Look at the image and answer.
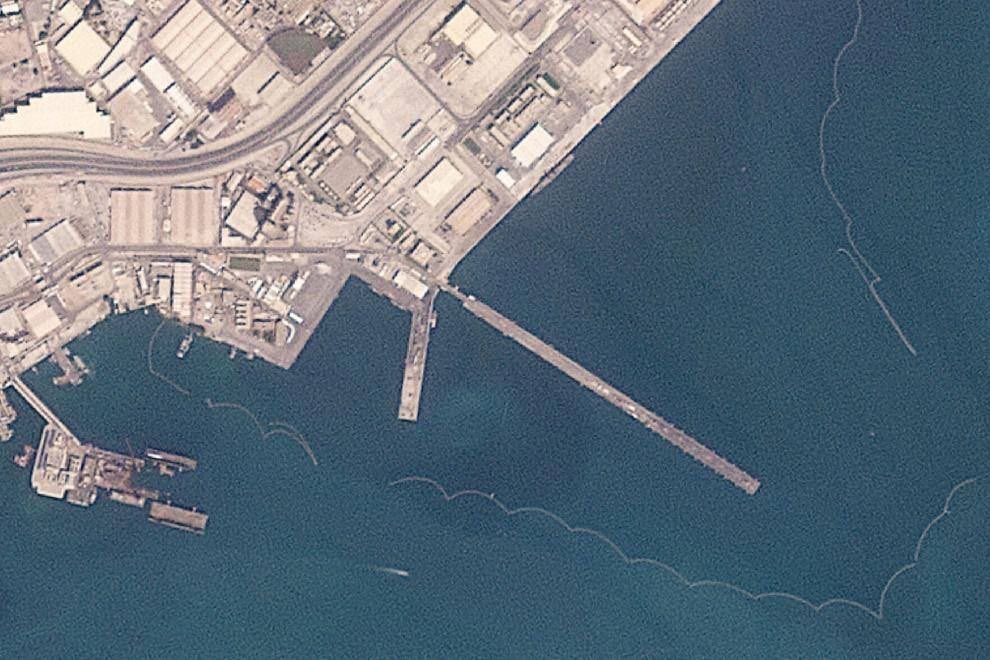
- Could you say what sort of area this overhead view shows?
port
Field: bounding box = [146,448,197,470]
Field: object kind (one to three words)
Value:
pier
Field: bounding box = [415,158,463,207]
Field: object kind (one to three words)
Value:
building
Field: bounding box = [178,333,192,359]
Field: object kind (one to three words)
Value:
ship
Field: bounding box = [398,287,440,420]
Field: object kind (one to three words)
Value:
pier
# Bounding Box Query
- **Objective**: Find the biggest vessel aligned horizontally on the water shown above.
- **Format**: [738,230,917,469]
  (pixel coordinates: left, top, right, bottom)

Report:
[109,492,145,506]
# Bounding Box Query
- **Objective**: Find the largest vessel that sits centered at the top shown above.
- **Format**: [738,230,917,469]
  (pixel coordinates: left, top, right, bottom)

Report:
[533,156,574,196]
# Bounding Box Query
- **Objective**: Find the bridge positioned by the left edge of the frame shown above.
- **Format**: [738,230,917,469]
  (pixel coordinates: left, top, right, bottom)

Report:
[9,375,79,445]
